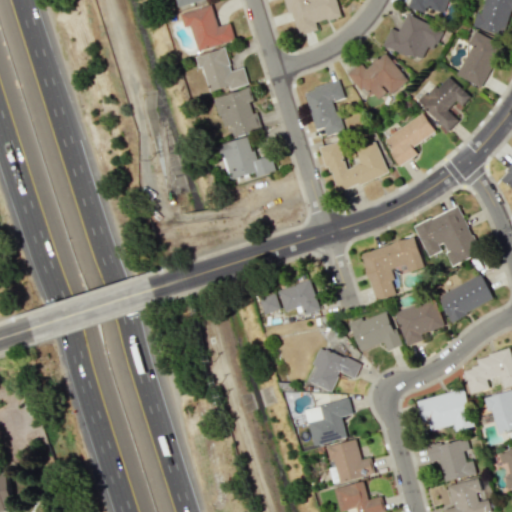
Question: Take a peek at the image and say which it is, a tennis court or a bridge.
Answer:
bridge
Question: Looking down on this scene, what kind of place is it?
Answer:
residential area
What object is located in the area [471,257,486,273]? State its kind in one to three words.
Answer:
camper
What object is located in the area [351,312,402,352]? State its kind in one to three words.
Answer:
house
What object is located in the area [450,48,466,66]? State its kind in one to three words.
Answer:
swimming pool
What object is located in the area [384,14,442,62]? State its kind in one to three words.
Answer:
house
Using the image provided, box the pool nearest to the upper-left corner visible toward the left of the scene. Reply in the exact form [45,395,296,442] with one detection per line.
[177,28,192,48]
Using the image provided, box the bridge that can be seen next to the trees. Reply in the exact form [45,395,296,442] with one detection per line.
[23,273,154,347]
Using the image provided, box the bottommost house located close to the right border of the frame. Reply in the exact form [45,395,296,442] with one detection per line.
[438,478,490,512]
